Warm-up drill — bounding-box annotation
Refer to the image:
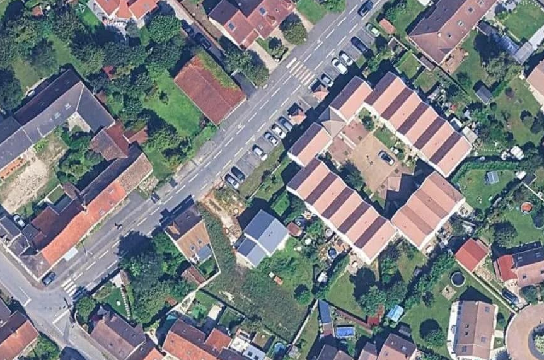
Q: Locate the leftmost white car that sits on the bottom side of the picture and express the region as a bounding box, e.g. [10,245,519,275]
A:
[13,213,26,229]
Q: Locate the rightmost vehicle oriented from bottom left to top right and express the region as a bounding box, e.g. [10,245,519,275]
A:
[358,1,373,15]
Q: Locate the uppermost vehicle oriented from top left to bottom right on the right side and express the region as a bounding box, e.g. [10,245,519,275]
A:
[366,23,380,36]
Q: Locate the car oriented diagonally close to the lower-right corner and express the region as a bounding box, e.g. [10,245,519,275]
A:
[503,290,516,304]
